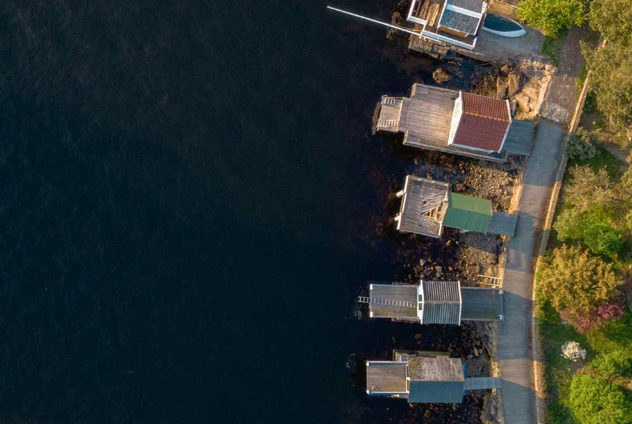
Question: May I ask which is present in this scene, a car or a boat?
boat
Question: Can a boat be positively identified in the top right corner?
Yes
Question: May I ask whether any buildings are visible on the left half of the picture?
No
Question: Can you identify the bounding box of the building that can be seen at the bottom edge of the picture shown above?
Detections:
[361,351,465,404]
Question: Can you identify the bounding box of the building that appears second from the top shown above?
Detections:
[374,83,520,163]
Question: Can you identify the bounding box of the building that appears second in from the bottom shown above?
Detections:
[361,279,504,326]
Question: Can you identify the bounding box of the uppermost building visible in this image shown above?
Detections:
[403,0,487,51]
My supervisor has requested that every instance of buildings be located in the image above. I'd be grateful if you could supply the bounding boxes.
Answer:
[403,0,487,51]
[361,351,465,404]
[374,83,520,163]
[391,175,494,237]
[361,279,504,326]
